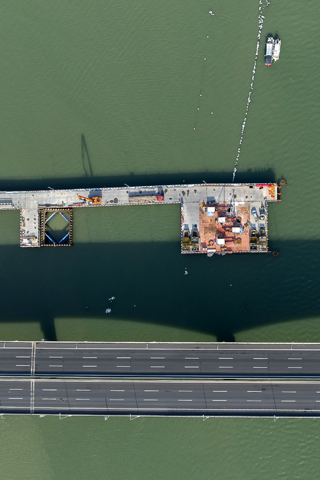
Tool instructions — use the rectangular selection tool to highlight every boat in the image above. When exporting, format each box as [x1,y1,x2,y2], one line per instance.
[265,40,272,66]
[272,40,279,62]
